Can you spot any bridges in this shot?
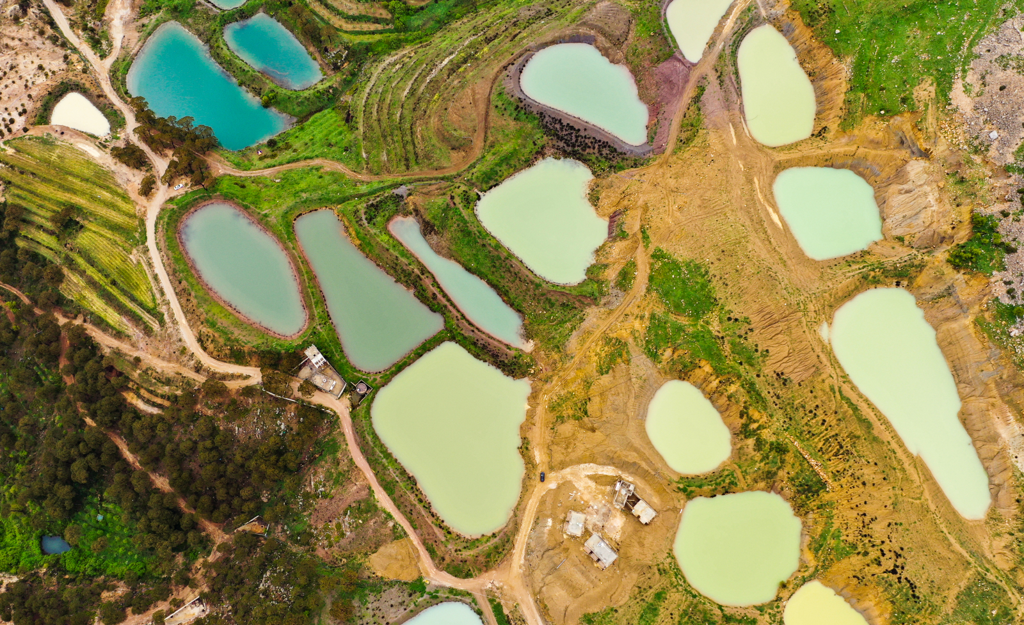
No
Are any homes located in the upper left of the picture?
No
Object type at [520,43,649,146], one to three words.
pond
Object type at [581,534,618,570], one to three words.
house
